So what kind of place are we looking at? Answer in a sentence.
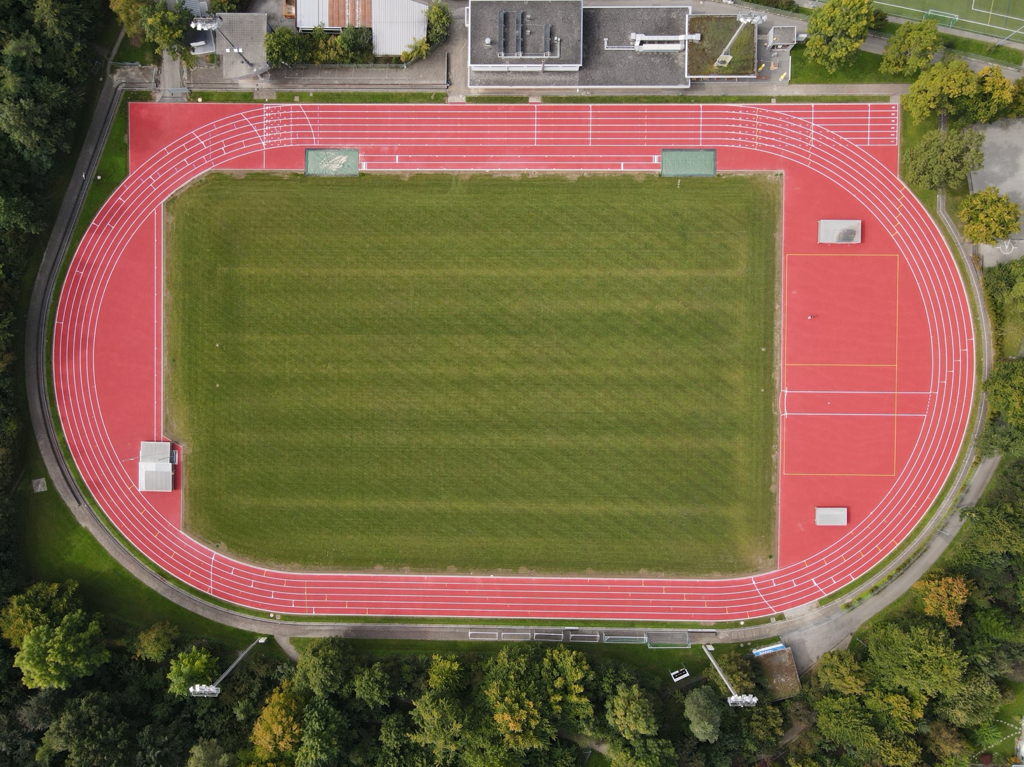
The area seen from above is a sports ground.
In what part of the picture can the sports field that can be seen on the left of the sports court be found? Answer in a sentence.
The sports field that can be seen on the left of the sports court appears toward the center of the photo.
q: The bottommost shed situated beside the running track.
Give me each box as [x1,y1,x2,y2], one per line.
[750,641,802,702]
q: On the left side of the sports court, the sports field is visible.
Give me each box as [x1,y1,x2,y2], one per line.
[141,170,783,580]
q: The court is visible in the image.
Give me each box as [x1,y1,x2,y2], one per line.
[784,255,899,475]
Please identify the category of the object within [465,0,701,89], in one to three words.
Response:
building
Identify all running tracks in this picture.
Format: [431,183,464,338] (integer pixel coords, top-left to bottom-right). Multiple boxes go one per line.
[53,100,976,622]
